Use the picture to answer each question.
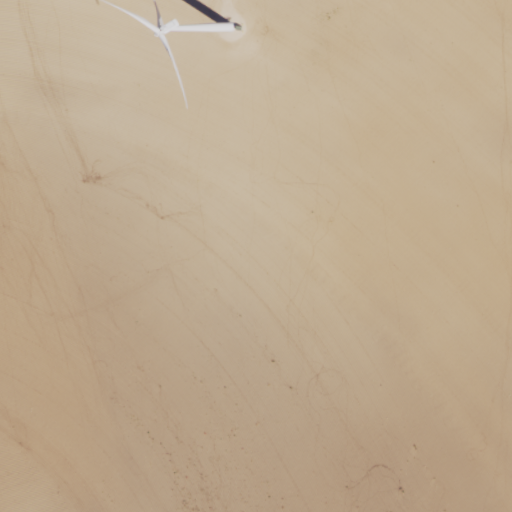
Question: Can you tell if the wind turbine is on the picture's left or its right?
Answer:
left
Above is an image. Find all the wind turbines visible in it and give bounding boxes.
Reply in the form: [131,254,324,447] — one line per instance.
[104,0,235,108]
